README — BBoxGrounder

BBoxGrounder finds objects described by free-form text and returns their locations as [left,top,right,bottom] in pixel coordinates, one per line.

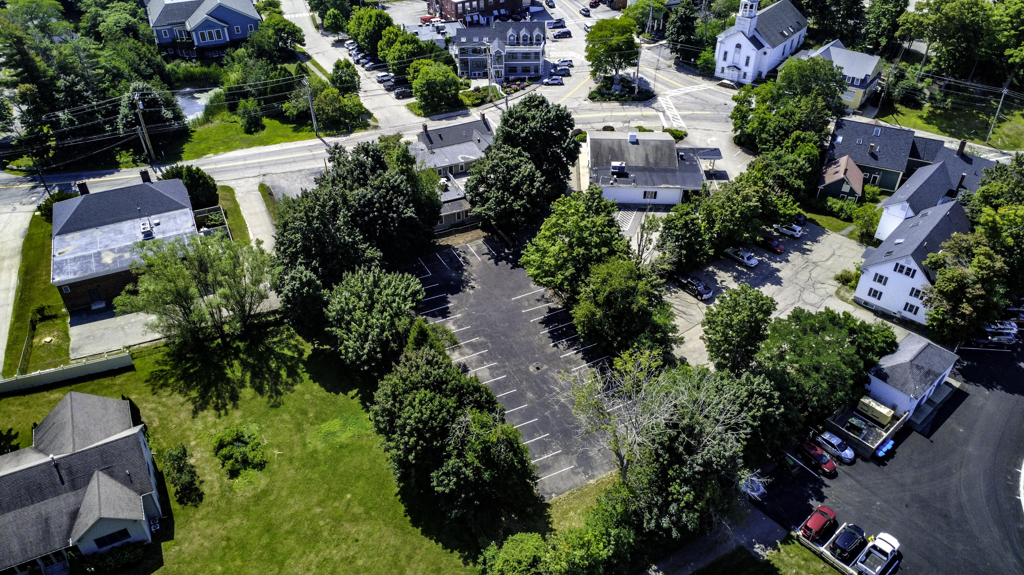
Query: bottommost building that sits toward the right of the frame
[865,332,962,418]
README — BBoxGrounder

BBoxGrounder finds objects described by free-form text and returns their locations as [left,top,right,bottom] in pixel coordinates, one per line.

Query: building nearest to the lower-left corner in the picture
[0,395,161,575]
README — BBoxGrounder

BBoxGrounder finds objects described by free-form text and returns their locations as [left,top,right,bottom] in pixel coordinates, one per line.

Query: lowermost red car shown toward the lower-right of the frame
[801,507,836,543]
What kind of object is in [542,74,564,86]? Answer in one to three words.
vehicle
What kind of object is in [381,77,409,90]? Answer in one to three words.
vehicle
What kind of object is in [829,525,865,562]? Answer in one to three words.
car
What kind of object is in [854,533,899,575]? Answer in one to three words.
truck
